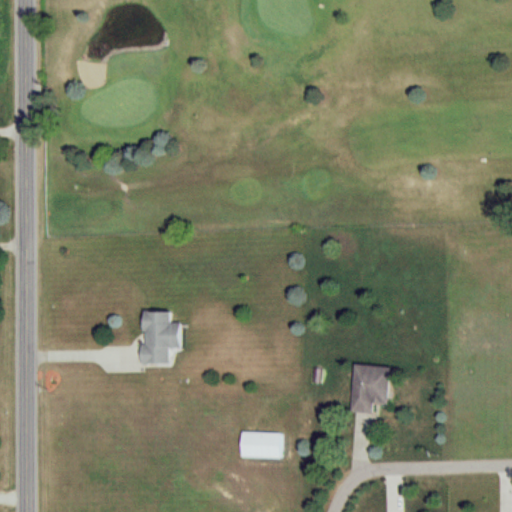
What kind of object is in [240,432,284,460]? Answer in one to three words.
barn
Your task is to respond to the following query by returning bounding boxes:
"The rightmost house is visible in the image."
[352,364,389,414]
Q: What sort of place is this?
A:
golf course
